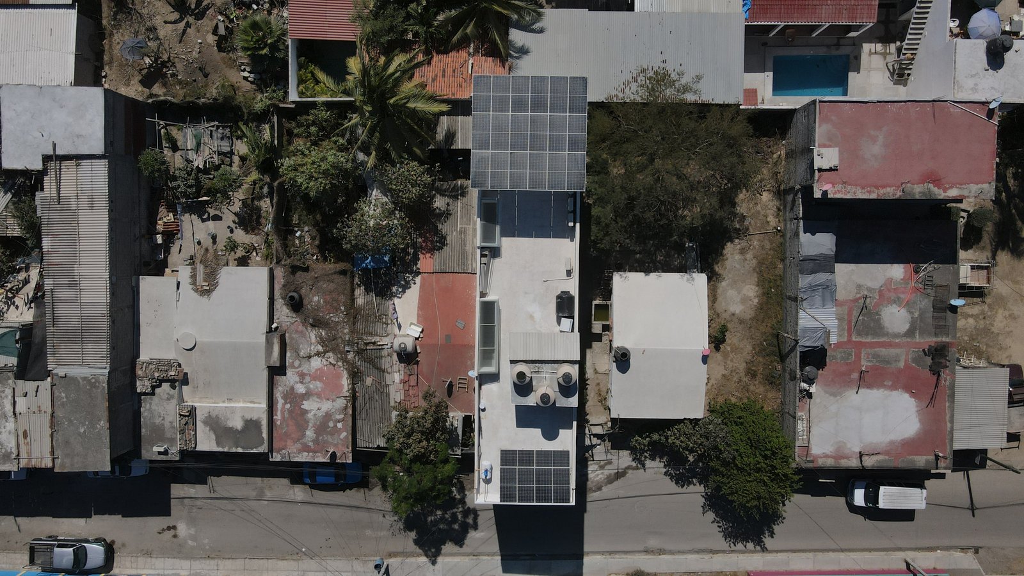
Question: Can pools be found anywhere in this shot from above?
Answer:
Yes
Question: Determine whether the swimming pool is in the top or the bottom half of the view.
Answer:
top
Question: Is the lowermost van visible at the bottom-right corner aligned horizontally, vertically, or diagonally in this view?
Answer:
horizontally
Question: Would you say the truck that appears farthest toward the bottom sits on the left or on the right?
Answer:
left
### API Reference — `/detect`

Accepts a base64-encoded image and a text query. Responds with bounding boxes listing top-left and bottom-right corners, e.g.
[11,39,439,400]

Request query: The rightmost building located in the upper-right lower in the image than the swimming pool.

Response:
[768,98,999,211]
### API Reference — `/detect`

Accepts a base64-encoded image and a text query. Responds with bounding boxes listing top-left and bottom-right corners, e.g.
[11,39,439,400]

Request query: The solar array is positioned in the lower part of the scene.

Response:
[500,450,574,503]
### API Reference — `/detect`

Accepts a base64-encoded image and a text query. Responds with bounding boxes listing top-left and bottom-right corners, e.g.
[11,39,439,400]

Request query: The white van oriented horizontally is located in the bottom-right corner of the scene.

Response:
[843,475,932,512]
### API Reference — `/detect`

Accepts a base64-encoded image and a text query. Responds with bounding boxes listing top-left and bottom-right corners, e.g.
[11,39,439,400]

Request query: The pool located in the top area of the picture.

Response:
[770,52,852,99]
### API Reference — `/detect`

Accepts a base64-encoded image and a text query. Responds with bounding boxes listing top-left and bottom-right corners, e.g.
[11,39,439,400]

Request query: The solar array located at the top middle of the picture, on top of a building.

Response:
[471,76,586,194]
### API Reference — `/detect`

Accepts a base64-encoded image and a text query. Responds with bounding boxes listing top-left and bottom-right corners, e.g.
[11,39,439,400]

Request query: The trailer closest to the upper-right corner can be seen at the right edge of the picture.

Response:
[958,259,1001,290]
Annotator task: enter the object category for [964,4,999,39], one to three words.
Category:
umbrella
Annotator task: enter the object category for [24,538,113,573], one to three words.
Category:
truck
